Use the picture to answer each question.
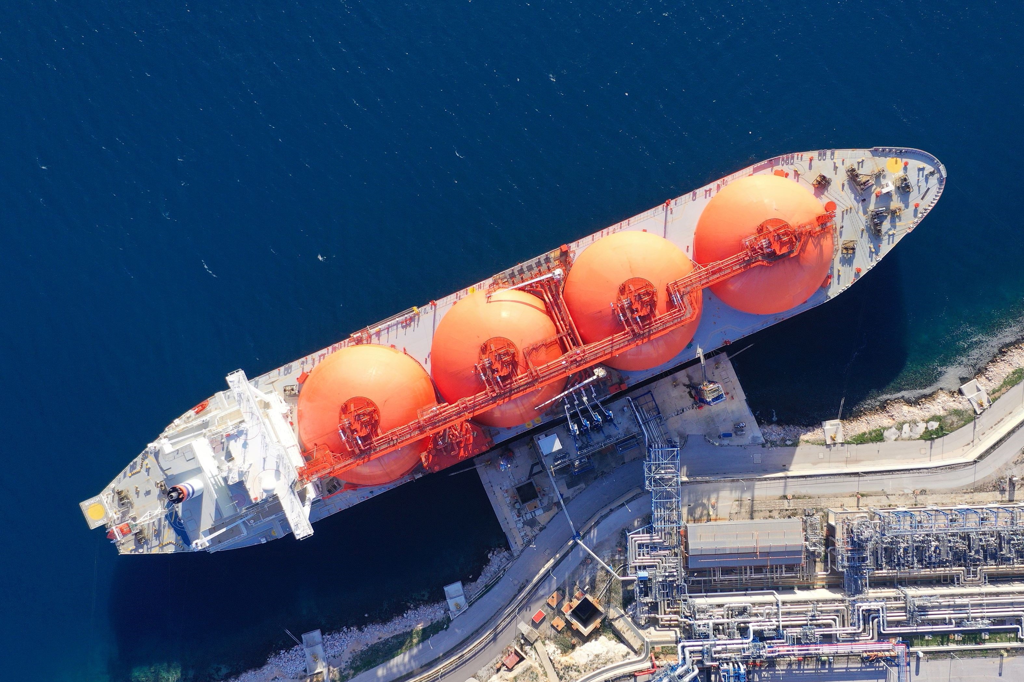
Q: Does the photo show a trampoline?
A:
No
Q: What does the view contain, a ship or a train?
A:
ship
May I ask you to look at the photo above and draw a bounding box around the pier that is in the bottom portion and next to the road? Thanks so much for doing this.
[474,348,765,557]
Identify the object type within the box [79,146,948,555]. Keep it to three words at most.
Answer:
ship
